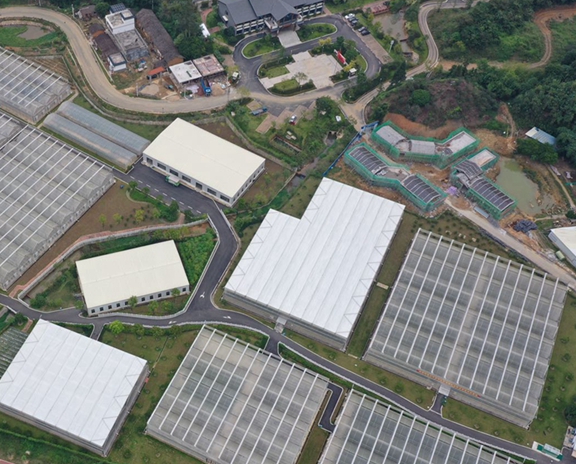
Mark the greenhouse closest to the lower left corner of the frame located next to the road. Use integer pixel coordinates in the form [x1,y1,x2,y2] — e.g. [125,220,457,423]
[0,320,147,458]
